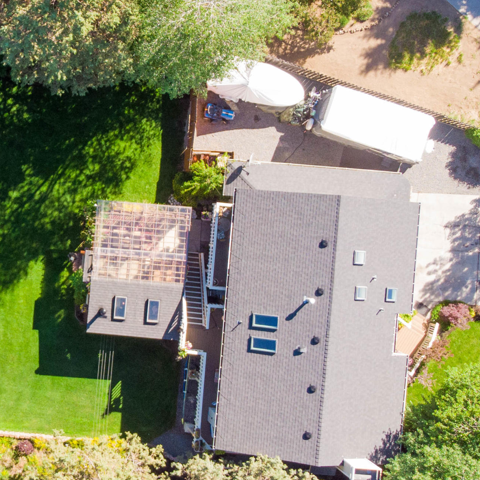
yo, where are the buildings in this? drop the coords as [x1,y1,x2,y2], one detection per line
[210,156,422,475]
[80,200,193,340]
